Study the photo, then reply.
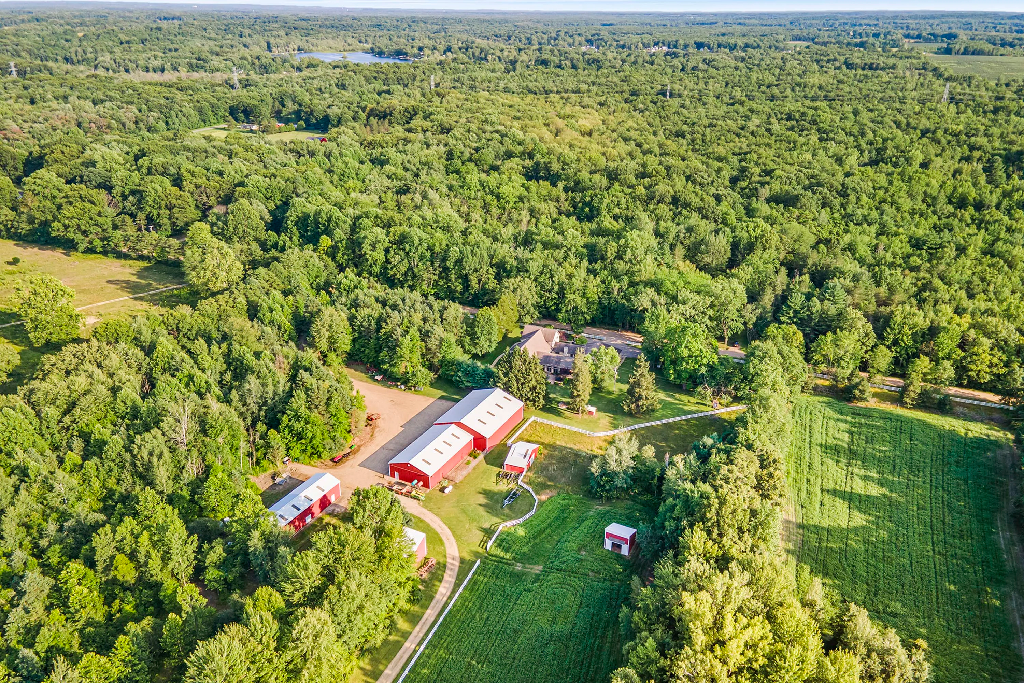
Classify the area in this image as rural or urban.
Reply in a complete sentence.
The area is rural.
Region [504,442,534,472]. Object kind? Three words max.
shed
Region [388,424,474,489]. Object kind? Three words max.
barn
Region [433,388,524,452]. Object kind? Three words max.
barn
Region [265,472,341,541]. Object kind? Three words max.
shed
